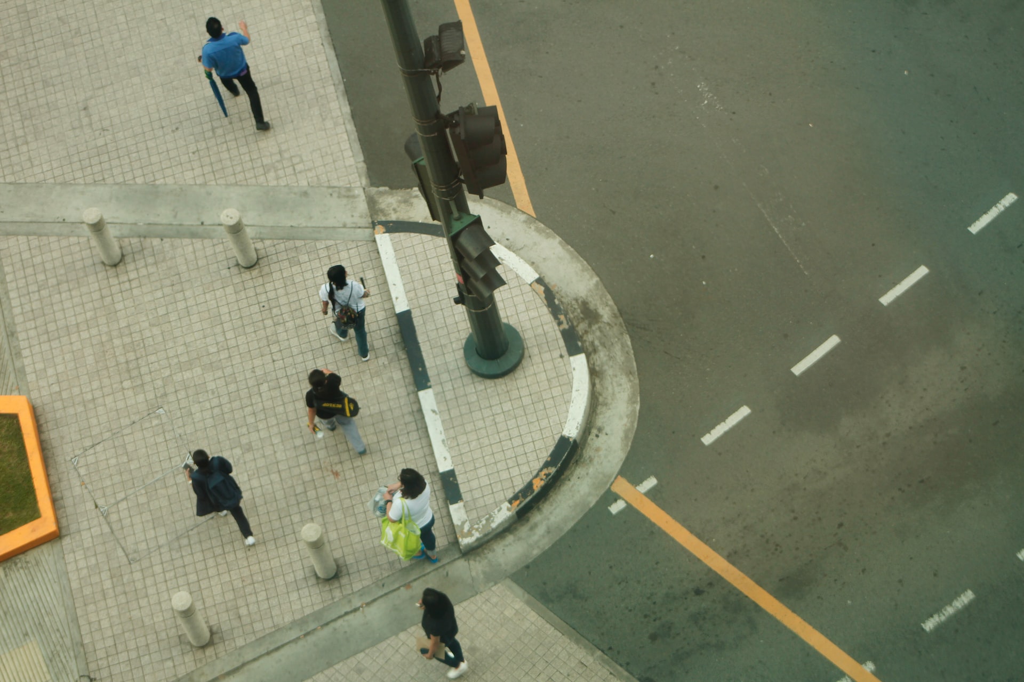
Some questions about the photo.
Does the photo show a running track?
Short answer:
No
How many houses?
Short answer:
0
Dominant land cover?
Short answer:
paved ground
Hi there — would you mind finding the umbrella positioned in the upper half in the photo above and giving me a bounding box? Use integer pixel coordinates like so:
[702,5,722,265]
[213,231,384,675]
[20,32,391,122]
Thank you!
[198,62,228,120]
